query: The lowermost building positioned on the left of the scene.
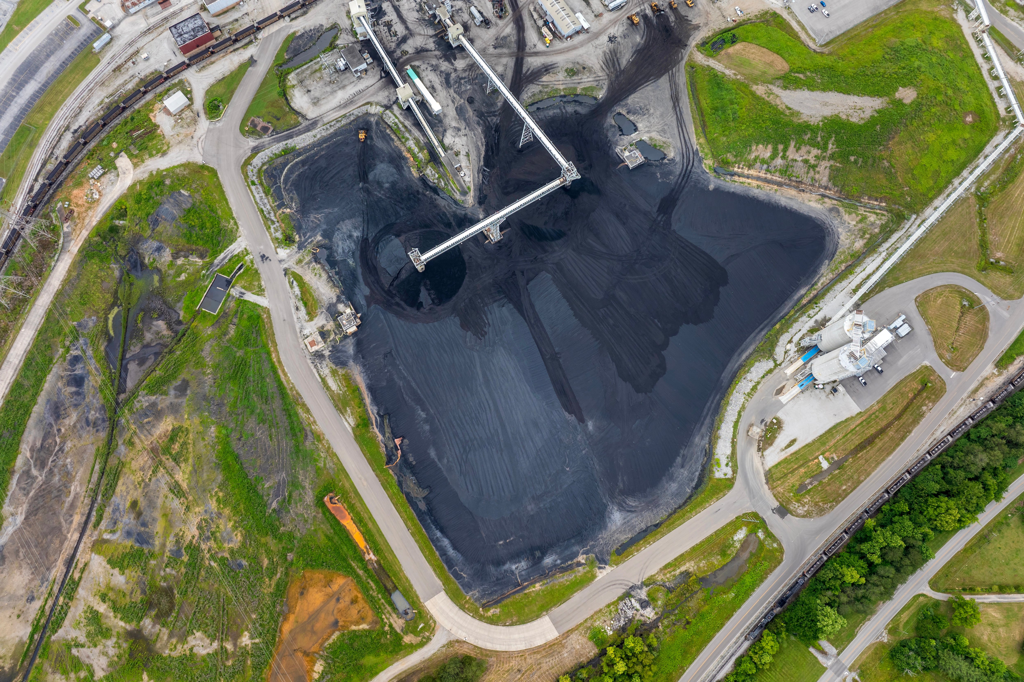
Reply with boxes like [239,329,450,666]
[337,301,361,333]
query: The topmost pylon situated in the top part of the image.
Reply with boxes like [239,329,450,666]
[0,206,58,251]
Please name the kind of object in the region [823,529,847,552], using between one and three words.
rail car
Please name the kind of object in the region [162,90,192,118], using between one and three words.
shed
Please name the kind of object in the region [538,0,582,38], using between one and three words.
building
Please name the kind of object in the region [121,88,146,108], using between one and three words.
rail car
